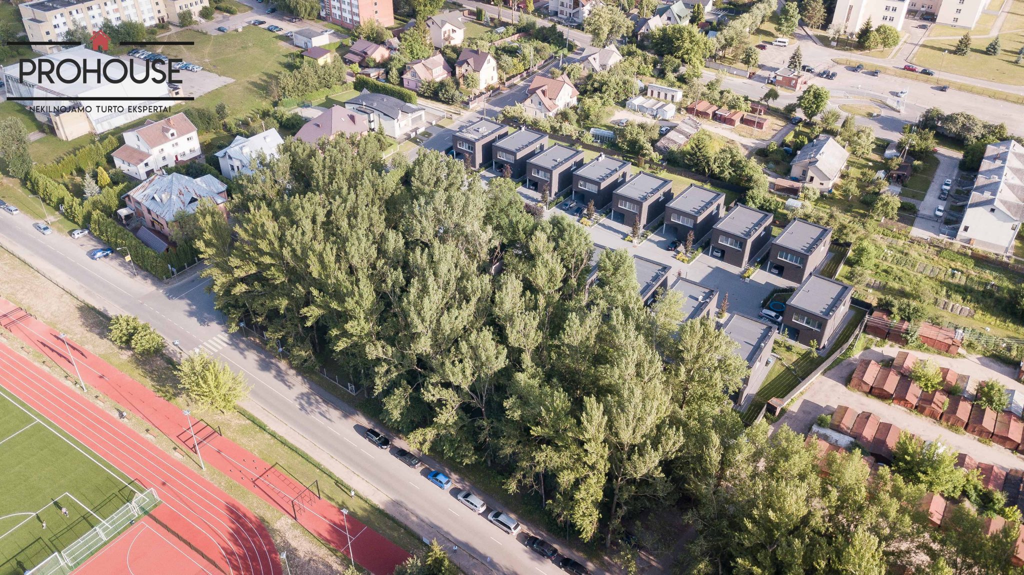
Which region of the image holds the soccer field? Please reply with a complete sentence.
The soccer field sits in the bottom left section of the image.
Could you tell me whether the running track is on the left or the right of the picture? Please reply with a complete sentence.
The running track is on the left side of the image.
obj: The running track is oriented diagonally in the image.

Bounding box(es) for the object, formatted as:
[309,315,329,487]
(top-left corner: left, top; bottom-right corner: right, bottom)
[0,339,282,575]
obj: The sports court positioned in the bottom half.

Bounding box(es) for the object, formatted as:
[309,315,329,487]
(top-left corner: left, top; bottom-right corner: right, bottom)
[69,515,203,575]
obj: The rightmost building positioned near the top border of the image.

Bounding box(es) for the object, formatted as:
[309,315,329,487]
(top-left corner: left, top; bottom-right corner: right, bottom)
[935,0,993,30]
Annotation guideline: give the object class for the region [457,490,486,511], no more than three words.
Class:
car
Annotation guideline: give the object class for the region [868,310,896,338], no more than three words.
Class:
building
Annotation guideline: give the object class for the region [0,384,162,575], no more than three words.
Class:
soccer field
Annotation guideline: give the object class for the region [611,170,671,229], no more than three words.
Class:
house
